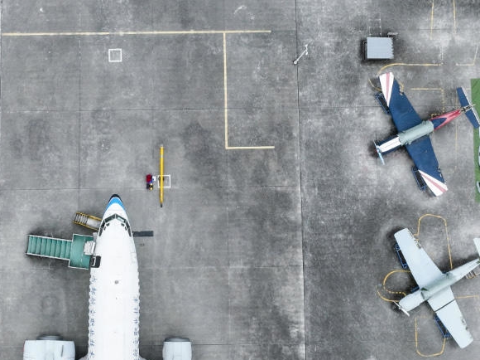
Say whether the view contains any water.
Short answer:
No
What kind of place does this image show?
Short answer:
airport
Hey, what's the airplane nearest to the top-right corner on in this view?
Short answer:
apron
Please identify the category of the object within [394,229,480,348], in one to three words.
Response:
airplane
